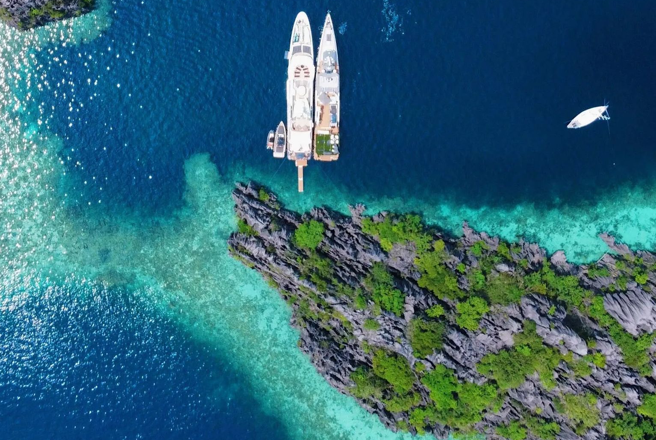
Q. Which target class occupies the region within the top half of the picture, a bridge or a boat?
boat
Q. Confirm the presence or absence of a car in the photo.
No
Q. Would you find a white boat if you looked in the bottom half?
No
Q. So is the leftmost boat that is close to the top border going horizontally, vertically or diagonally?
vertically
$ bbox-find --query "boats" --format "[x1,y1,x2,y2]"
[284,10,315,161]
[314,10,340,161]
[570,102,611,129]
[273,122,285,158]
[266,130,274,149]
